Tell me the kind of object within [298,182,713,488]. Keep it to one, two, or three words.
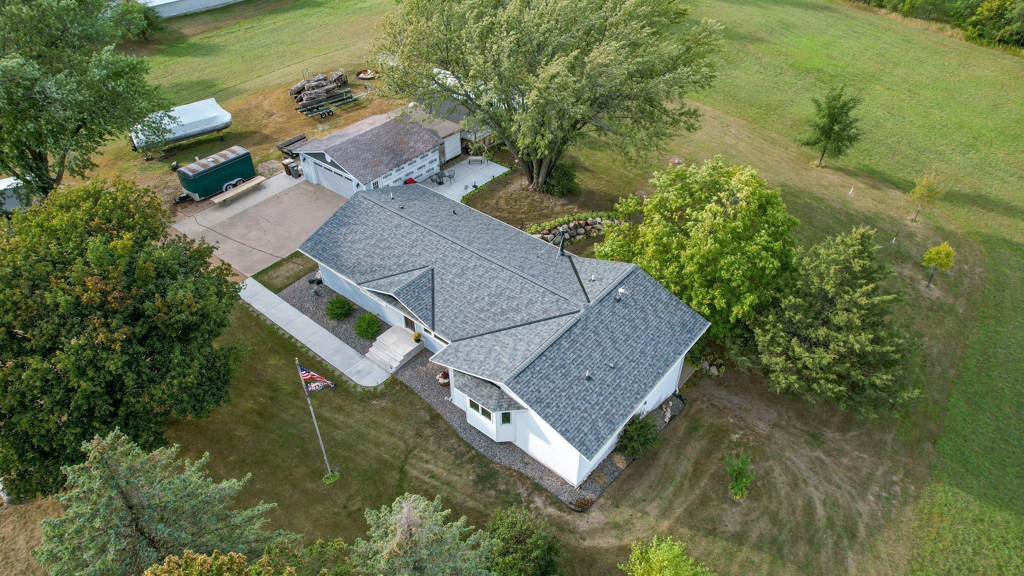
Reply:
house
